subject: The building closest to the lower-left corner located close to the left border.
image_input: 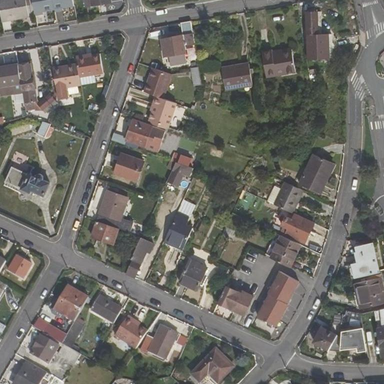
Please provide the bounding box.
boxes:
[10,358,48,384]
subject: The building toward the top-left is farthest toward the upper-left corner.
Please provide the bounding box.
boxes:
[0,0,28,22]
